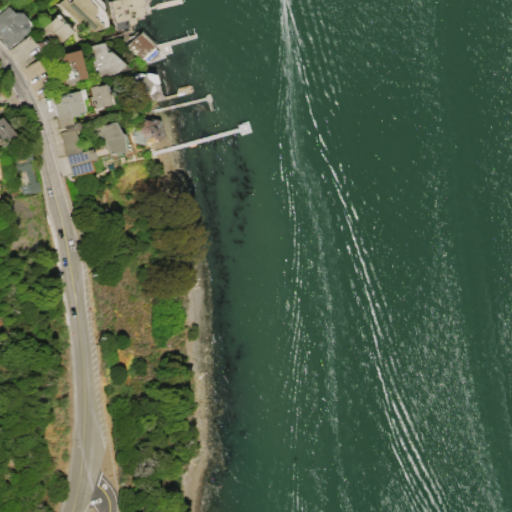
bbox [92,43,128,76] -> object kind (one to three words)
house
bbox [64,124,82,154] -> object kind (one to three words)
building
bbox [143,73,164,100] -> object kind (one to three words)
house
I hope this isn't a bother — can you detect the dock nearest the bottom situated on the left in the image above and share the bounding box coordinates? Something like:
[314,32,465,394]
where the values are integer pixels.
[152,121,252,156]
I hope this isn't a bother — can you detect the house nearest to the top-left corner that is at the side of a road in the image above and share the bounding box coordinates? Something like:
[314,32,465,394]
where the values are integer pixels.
[0,7,32,48]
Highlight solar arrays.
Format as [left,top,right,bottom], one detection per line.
[70,153,89,164]
[72,163,93,176]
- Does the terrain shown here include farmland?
No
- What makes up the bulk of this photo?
water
